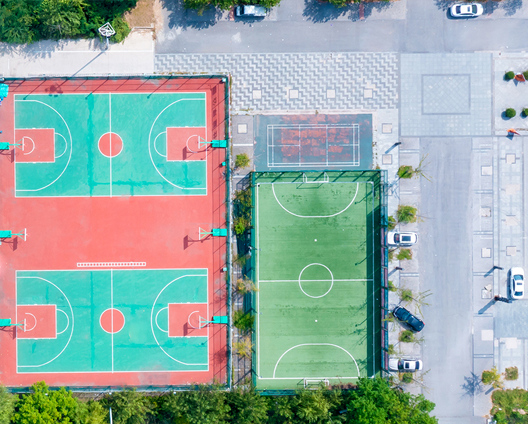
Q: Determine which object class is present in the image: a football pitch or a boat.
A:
football pitch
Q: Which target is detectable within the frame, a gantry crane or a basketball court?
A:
basketball court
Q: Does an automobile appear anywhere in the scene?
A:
Yes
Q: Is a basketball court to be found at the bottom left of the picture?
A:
Yes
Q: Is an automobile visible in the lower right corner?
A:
Yes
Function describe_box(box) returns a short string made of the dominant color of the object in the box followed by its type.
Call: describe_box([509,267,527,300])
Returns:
white car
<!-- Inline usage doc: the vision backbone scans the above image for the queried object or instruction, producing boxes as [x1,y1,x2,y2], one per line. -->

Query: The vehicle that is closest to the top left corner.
[235,4,268,18]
